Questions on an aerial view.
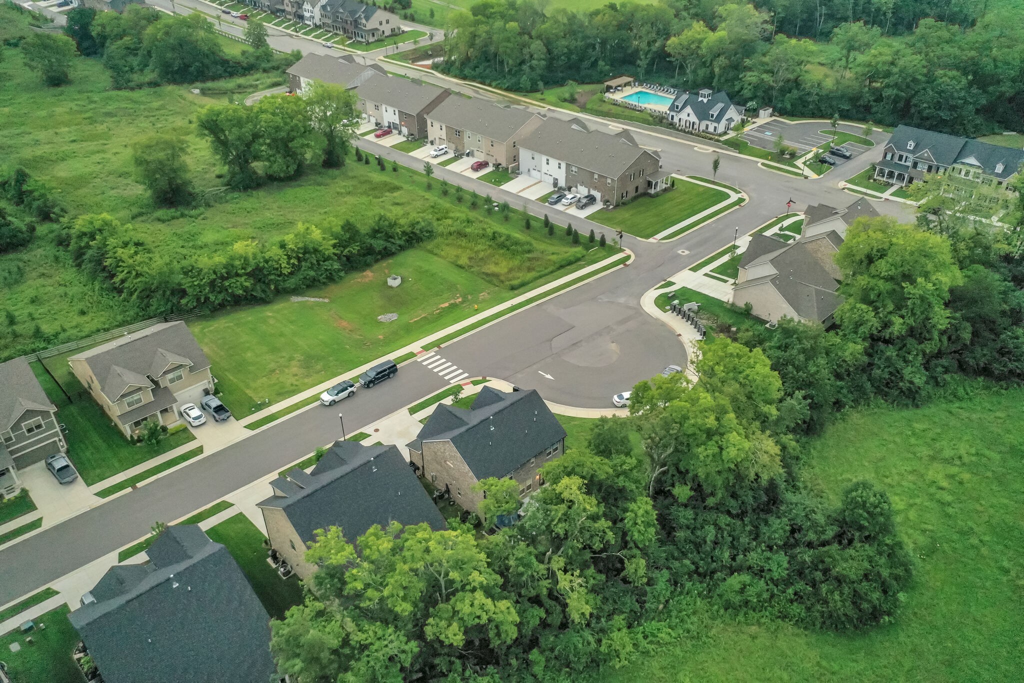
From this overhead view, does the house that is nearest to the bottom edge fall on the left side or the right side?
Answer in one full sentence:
The house that is nearest to the bottom edge appears in the left half of the scene.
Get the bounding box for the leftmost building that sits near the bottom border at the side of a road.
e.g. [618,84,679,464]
[64,522,284,683]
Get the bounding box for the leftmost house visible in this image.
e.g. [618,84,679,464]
[0,349,66,496]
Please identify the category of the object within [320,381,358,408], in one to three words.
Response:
car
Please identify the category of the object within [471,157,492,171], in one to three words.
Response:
car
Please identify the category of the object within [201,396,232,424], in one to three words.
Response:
truck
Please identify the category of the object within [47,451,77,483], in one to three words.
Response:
truck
